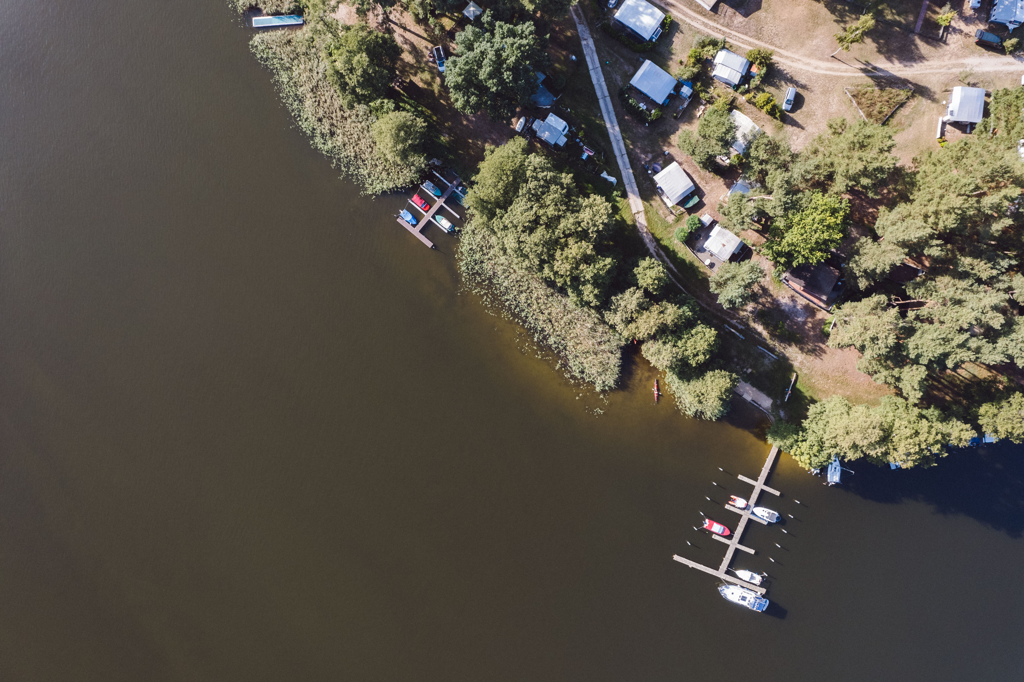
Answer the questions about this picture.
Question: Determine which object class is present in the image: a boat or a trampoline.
boat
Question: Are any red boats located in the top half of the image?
Yes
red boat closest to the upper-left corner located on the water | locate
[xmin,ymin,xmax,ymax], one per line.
[409,192,430,211]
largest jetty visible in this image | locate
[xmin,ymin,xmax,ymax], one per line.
[673,444,781,594]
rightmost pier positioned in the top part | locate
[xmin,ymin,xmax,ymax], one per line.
[396,176,462,248]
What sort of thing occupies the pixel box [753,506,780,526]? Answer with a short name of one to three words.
boat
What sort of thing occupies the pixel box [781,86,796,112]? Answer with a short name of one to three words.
car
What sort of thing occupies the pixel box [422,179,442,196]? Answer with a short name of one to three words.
boat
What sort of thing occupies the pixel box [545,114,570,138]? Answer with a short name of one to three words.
camper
